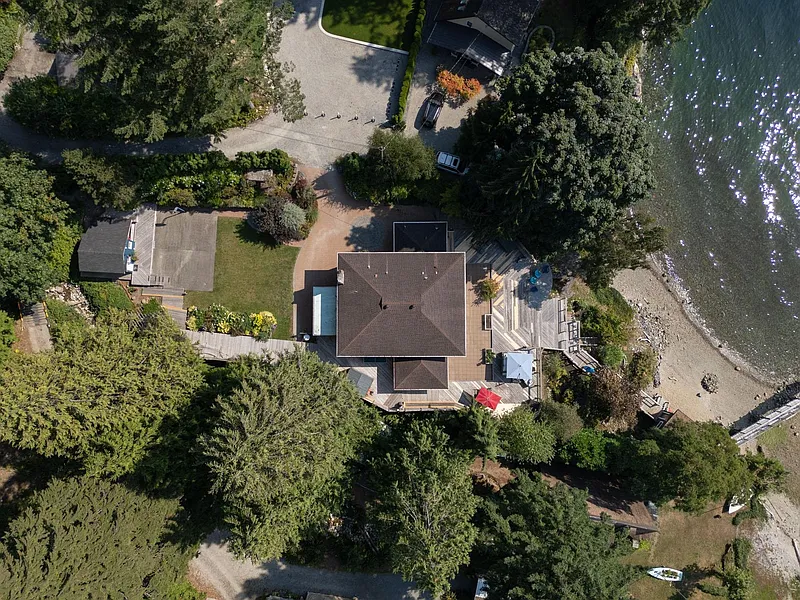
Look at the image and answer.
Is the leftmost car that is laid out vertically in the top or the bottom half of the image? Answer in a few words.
top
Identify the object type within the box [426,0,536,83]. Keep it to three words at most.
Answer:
house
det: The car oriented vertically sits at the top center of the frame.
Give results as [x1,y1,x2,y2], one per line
[423,92,445,130]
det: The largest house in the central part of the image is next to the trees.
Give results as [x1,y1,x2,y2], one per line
[337,221,467,391]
